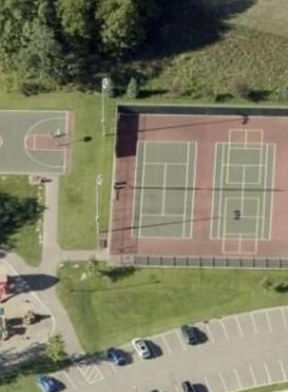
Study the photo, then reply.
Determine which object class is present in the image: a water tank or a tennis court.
tennis court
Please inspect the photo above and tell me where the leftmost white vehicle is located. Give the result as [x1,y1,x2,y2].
[132,339,151,361]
